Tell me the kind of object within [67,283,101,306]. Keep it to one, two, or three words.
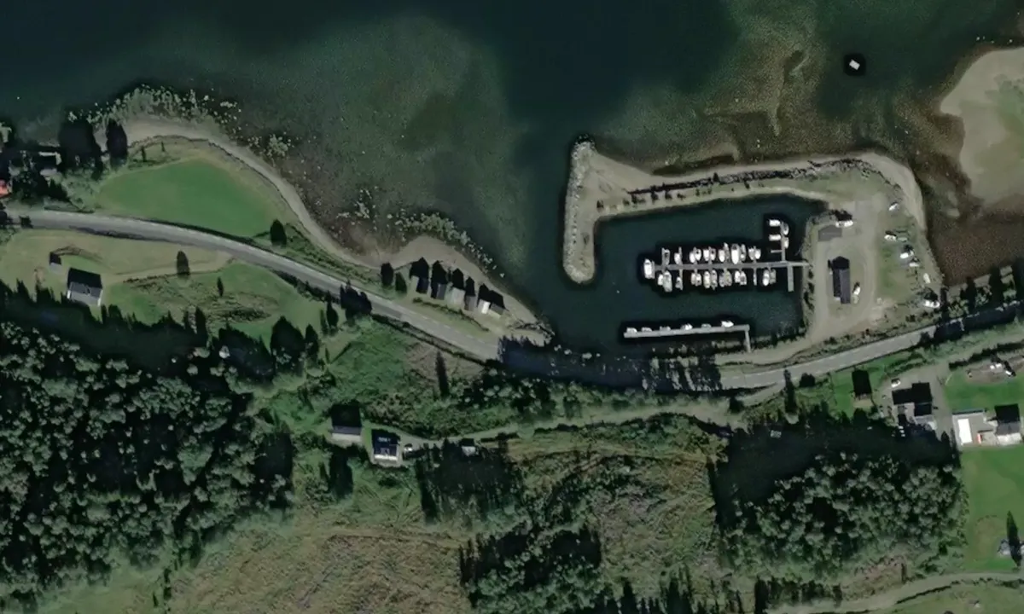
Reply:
house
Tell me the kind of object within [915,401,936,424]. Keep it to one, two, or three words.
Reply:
house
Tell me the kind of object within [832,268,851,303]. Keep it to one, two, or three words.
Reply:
shed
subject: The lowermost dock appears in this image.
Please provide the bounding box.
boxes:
[624,325,751,352]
